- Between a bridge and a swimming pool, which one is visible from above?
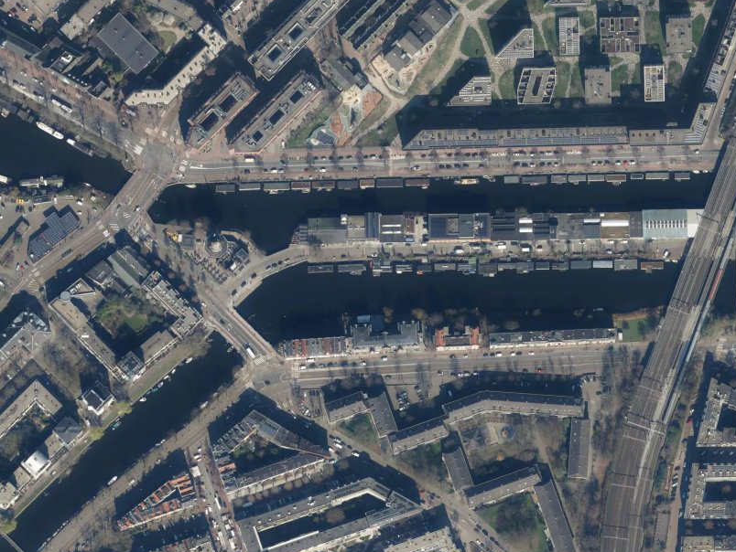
bridge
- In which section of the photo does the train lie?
right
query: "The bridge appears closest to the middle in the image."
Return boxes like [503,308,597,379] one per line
[207,307,281,361]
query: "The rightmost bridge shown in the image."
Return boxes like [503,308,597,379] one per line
[600,128,736,552]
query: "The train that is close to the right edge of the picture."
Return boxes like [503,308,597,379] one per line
[672,221,736,390]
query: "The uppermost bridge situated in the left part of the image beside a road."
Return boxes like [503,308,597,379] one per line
[109,169,165,211]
